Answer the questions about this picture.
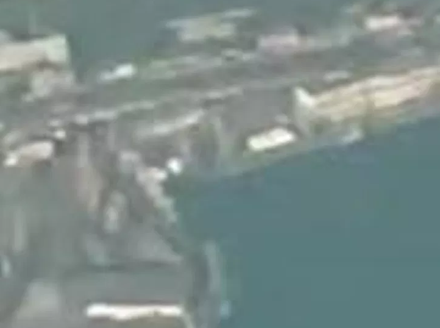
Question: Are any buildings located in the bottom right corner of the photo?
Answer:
No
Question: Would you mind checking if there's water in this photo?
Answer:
Yes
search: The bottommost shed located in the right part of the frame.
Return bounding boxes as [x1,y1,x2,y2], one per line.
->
[246,119,295,151]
